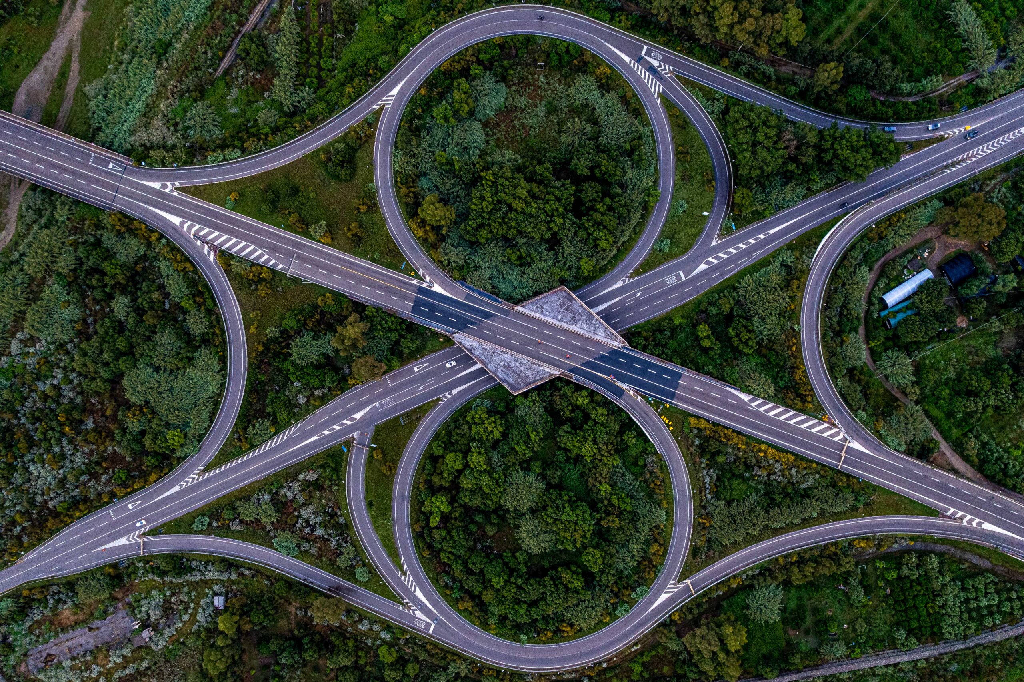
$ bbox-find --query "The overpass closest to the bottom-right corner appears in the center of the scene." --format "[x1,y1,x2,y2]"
[346,280,741,463]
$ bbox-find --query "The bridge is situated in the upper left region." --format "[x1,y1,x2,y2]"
[0,109,135,213]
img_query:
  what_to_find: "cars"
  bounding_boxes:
[433,616,441,625]
[135,520,145,527]
[445,360,457,368]
[929,122,941,129]
[885,126,898,132]
[840,202,850,209]
[967,130,980,138]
